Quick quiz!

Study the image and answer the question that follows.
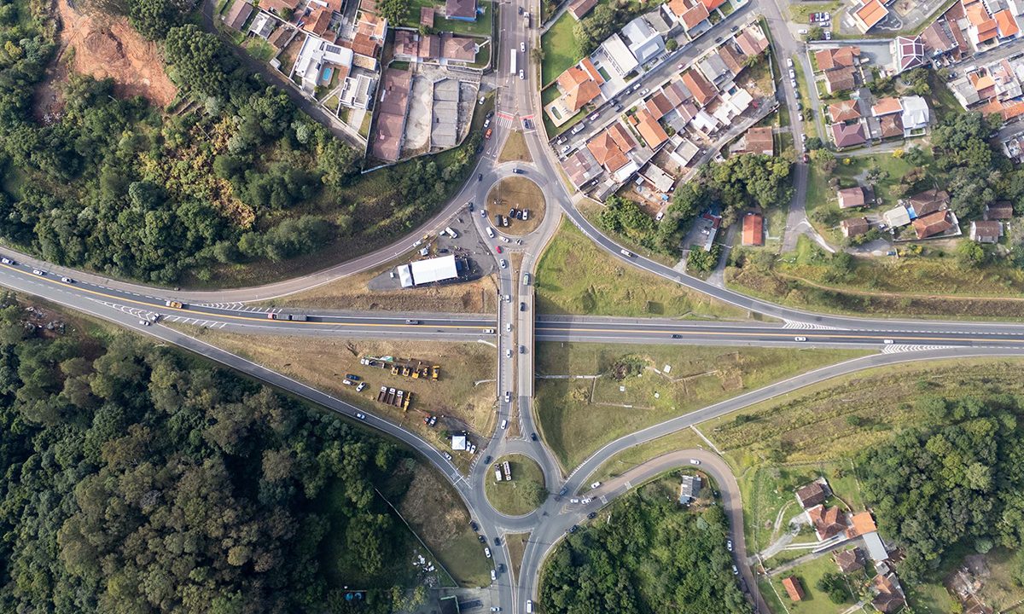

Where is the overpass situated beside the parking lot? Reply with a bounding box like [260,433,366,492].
[497,286,535,398]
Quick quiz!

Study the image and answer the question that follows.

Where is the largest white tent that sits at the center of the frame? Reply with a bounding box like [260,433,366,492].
[410,256,458,283]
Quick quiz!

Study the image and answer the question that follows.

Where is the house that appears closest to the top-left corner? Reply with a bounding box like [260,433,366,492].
[223,0,255,32]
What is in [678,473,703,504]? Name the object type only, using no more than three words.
shed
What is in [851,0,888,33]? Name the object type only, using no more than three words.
building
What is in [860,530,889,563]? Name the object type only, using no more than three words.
barn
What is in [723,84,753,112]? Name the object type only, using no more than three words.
house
